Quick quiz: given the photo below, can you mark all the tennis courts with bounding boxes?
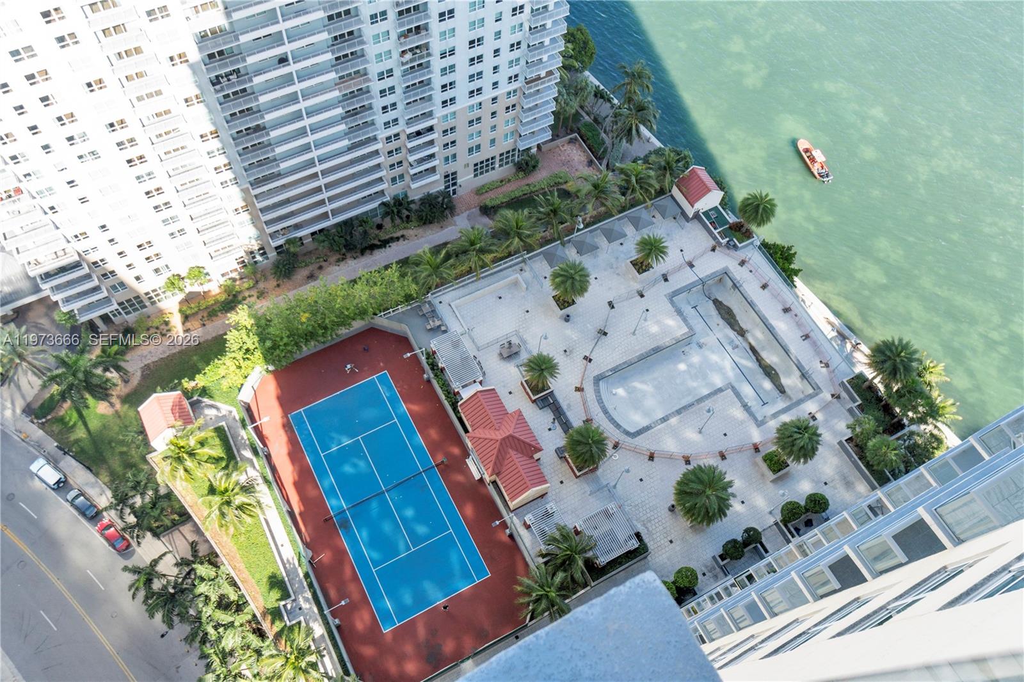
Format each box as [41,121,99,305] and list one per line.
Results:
[251,327,548,682]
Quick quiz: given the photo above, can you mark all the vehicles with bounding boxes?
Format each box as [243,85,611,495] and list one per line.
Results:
[29,456,67,492]
[63,488,101,522]
[95,516,133,554]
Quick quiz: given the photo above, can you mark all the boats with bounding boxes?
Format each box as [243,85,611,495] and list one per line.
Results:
[799,138,835,184]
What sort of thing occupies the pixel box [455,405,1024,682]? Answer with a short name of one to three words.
building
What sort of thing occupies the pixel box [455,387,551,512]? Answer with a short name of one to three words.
building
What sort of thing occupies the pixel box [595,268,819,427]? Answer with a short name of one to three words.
swimming pool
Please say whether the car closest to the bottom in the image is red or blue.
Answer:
red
